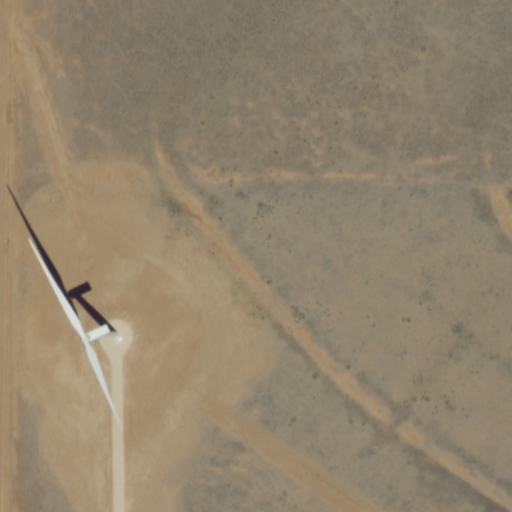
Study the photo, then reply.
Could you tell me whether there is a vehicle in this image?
No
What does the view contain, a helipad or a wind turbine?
wind turbine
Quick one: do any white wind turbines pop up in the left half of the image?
Yes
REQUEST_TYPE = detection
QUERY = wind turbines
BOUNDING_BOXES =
[29,238,122,432]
